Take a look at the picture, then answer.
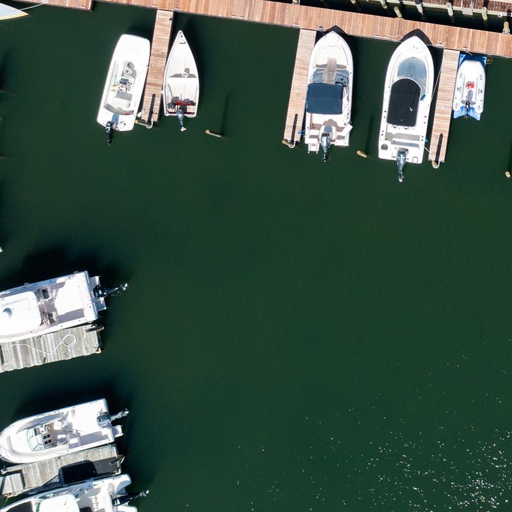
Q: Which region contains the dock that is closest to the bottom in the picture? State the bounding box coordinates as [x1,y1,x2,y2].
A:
[6,445,121,497]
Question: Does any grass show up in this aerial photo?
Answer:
No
